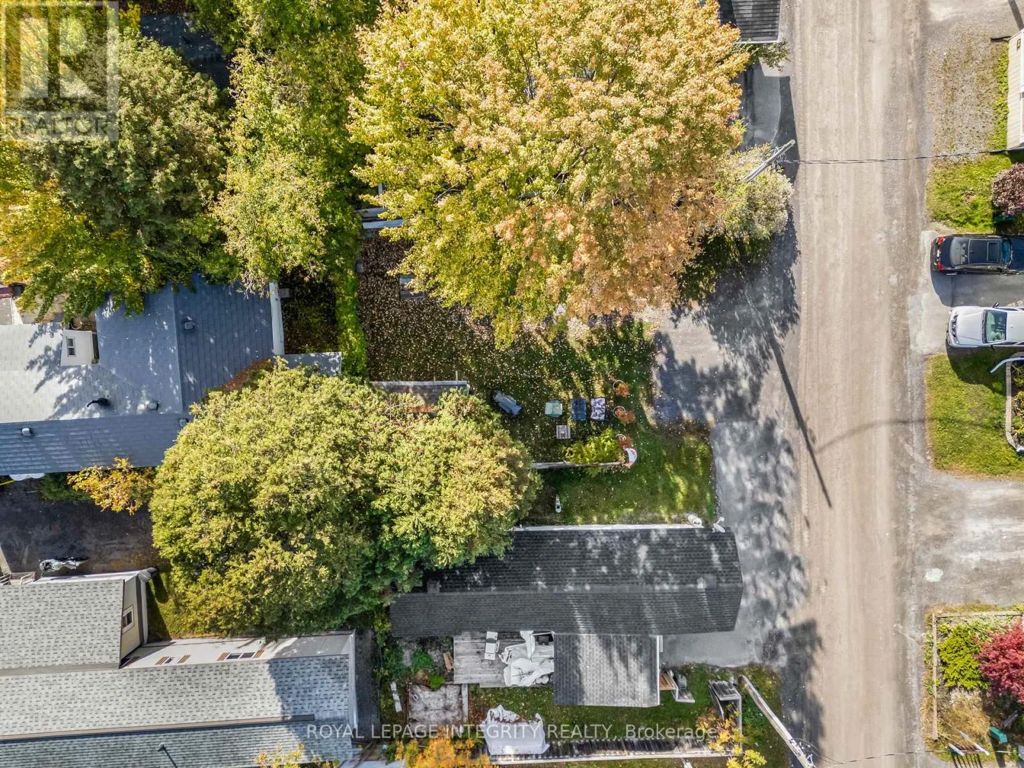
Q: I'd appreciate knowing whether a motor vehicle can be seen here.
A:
Yes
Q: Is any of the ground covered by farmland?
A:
No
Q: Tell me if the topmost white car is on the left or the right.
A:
right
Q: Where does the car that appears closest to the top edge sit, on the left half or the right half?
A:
right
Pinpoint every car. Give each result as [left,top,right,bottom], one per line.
[943,299,1024,354]
[929,228,1024,281]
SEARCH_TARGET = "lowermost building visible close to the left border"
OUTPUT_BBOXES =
[0,578,364,768]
